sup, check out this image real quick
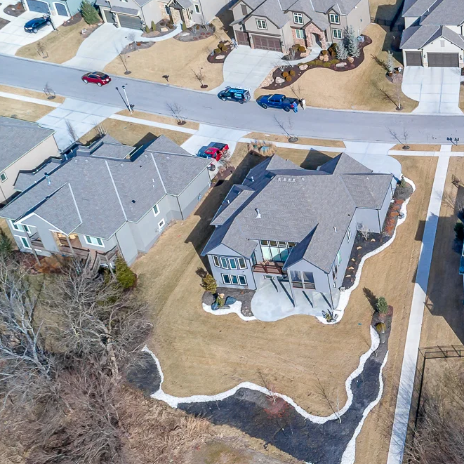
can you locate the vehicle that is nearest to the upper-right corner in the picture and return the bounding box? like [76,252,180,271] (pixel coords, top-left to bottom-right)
[254,90,298,109]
